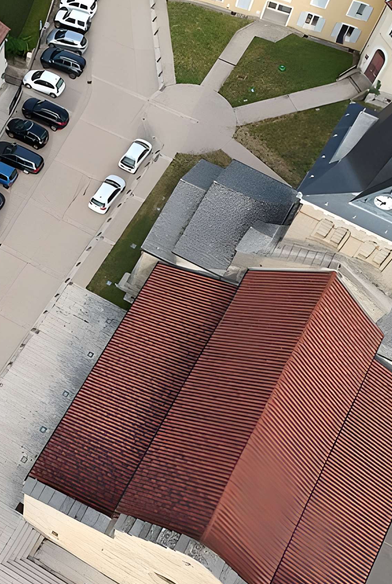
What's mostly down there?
buildings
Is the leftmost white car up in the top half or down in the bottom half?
top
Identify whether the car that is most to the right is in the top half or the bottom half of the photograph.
top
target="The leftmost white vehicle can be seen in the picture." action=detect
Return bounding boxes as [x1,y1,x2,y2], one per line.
[21,71,67,99]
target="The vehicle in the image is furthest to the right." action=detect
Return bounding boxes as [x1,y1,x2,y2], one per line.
[115,138,155,176]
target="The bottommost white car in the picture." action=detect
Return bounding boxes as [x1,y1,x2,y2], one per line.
[85,174,127,216]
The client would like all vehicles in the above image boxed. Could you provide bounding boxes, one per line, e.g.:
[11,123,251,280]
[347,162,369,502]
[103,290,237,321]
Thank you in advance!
[59,0,98,18]
[0,163,20,189]
[53,8,95,34]
[39,48,87,77]
[85,174,127,216]
[20,101,71,130]
[21,71,67,99]
[45,30,89,55]
[0,143,46,175]
[115,138,155,176]
[4,120,50,149]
